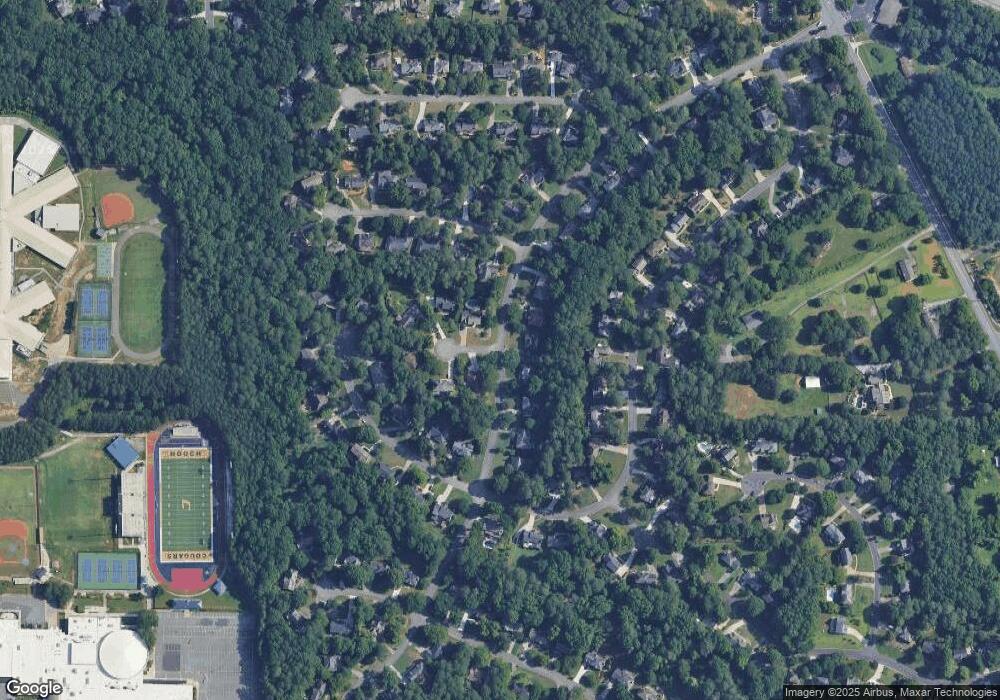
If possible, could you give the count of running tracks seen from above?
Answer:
2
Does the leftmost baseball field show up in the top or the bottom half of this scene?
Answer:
bottom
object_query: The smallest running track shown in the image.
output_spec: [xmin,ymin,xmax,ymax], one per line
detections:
[111,224,176,362]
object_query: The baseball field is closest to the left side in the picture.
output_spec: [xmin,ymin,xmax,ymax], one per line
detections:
[0,464,38,575]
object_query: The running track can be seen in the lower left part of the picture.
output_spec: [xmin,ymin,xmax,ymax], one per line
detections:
[146,424,228,597]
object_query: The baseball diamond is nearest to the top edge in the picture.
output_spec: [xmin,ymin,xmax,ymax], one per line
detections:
[93,168,162,227]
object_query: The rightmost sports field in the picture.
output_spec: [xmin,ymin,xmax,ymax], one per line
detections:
[159,447,213,562]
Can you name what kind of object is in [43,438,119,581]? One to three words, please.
sports field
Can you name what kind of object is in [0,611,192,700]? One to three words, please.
building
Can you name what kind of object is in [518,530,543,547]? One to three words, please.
house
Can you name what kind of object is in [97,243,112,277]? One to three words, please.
sports court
